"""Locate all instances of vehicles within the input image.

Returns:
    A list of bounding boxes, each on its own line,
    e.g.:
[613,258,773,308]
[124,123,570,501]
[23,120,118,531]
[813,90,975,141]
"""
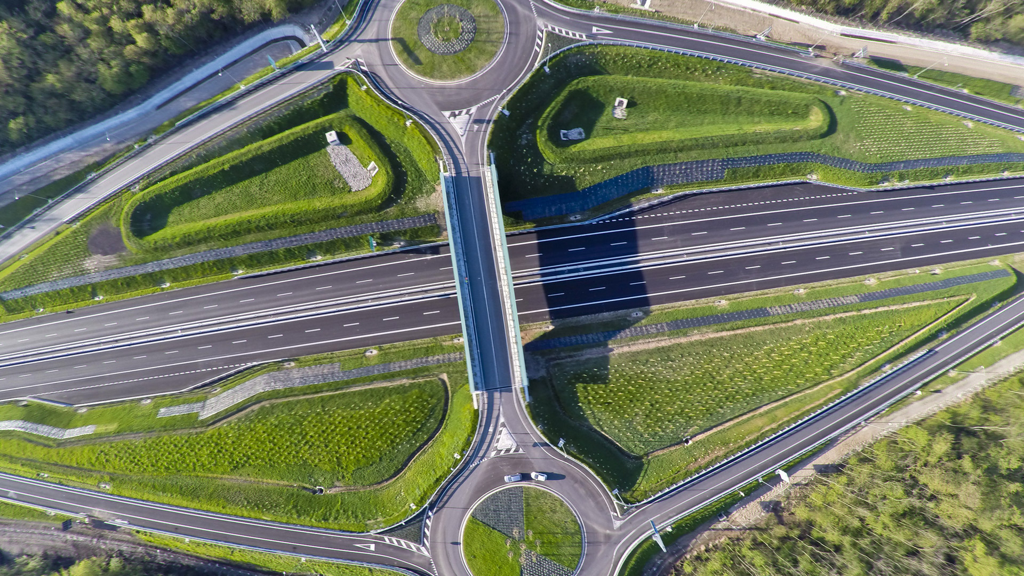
[531,472,547,483]
[504,474,522,485]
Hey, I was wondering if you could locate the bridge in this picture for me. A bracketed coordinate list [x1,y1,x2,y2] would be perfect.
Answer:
[439,153,529,409]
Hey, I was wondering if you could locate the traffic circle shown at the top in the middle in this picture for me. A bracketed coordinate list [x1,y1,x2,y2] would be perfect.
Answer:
[323,0,589,176]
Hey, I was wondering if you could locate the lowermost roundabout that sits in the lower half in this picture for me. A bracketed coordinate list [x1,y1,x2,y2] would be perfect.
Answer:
[372,384,635,576]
